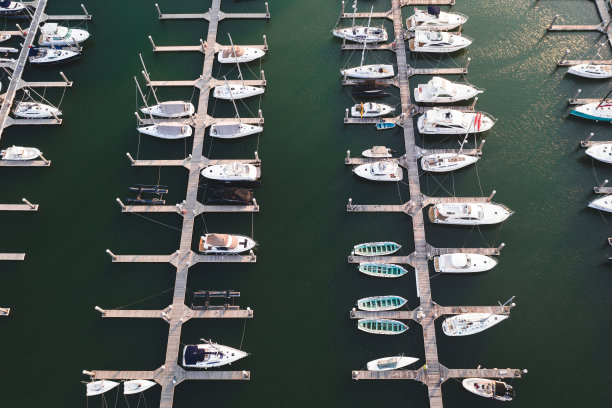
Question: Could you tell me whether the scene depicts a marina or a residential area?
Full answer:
It's a marina.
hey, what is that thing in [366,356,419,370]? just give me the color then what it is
white boat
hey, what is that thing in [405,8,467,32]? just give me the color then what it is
white boat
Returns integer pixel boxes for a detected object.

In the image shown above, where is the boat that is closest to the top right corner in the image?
[568,38,612,80]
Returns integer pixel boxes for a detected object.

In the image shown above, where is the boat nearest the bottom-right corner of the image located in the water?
[463,378,513,401]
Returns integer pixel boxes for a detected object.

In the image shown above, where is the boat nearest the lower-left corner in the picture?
[84,381,119,395]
